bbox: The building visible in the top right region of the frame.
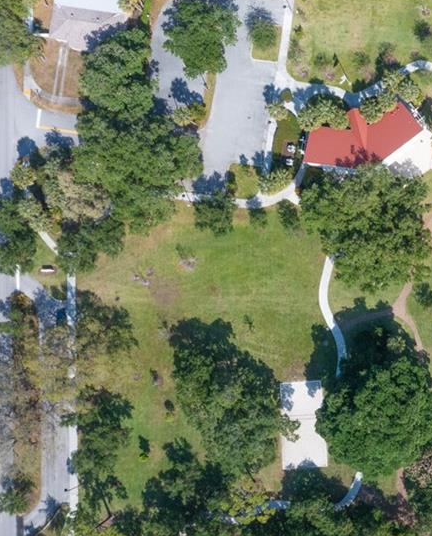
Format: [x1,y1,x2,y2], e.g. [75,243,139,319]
[303,102,423,170]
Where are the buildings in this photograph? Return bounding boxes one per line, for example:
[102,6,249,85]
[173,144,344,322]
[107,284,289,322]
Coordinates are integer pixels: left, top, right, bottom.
[38,0,127,54]
[303,102,423,170]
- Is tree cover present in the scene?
Yes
